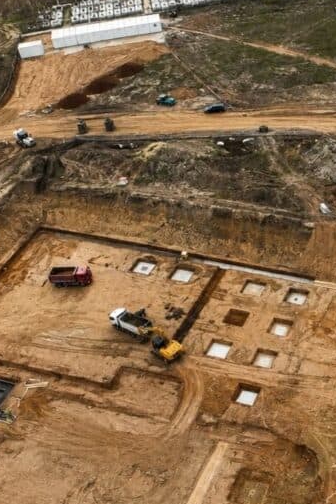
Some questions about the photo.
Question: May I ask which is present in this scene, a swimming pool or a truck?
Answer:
truck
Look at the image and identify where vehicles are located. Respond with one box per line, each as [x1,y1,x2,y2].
[12,128,33,145]
[147,320,183,360]
[108,307,153,339]
[204,102,225,112]
[43,264,91,284]
[101,119,117,131]
[75,118,89,133]
[154,94,176,105]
